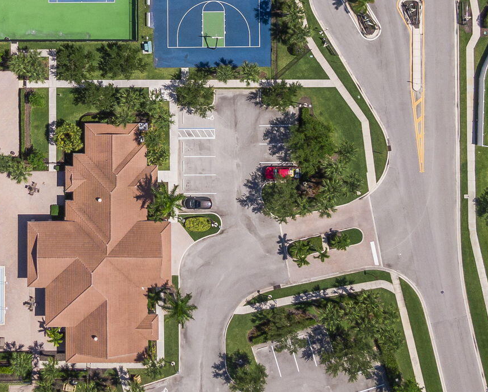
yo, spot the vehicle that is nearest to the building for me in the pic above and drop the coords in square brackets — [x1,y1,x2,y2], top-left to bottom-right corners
[183,197,213,210]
